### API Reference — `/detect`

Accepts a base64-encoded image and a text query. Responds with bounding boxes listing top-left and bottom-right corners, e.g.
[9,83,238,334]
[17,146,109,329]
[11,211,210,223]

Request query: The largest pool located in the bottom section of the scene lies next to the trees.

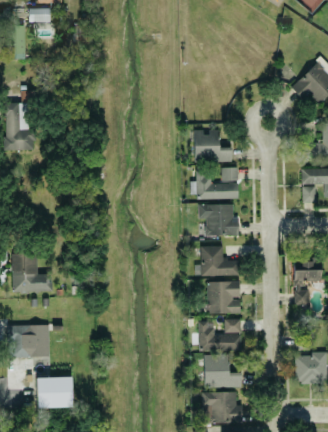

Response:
[310,288,324,316]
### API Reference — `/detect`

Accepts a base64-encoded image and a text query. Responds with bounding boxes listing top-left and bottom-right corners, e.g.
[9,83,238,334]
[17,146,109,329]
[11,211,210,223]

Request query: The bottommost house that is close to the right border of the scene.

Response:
[296,352,328,385]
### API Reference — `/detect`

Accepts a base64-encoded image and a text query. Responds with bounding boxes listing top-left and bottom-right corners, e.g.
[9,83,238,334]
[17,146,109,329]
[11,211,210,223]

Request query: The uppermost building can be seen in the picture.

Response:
[29,8,50,22]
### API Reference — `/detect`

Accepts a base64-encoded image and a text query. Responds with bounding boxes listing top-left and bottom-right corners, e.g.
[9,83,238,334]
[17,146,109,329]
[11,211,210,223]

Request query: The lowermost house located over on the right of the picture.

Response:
[202,392,242,424]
